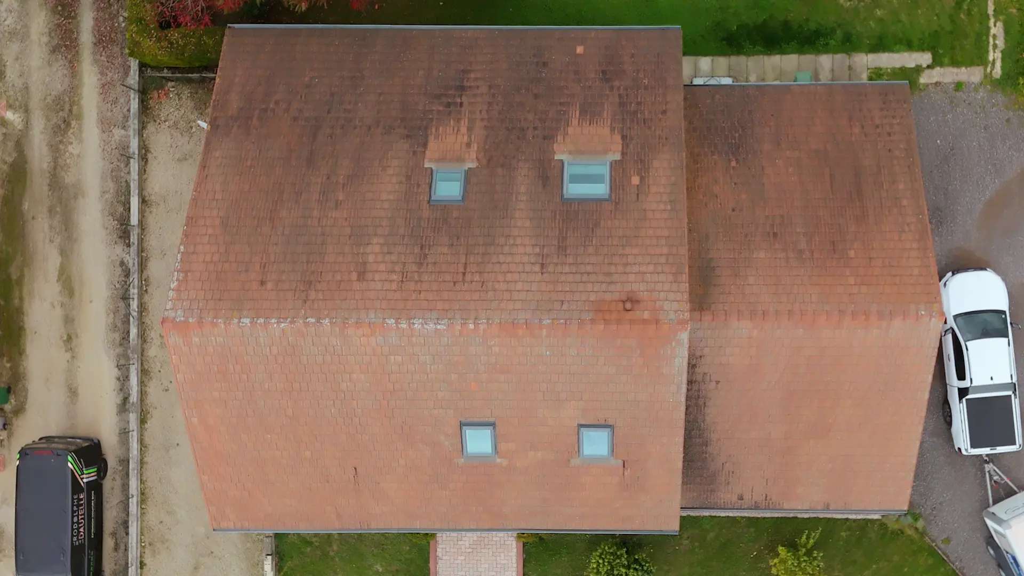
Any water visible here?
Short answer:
No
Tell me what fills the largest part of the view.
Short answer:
buildings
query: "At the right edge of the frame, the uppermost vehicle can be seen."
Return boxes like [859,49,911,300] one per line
[942,268,1024,458]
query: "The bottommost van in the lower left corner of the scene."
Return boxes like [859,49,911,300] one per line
[16,435,106,576]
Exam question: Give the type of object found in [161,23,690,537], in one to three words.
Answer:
house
